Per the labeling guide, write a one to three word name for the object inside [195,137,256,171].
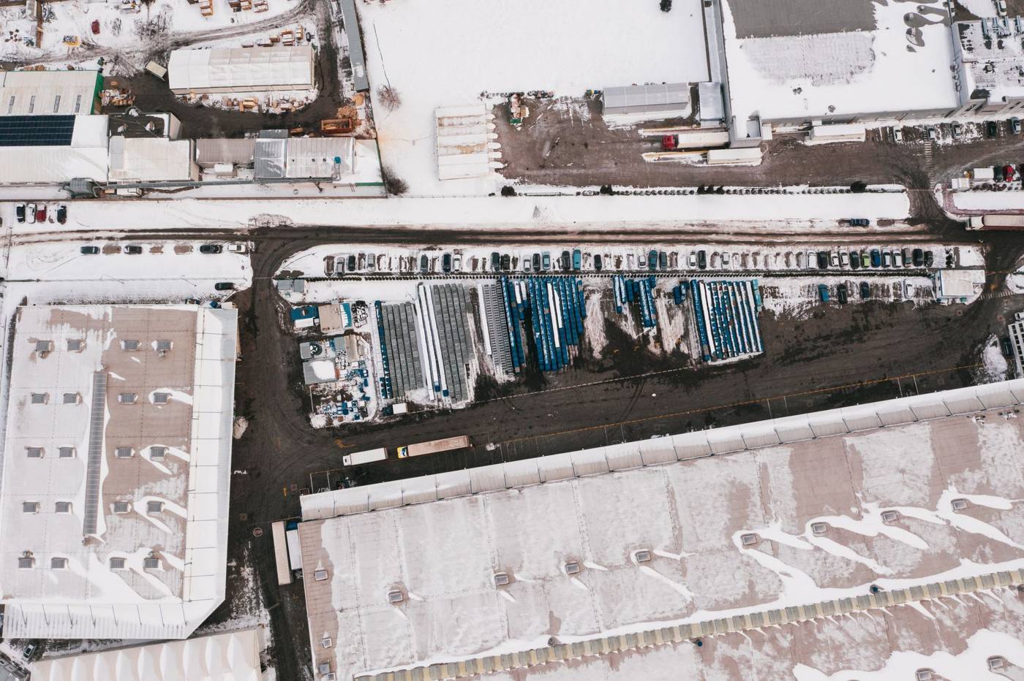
shed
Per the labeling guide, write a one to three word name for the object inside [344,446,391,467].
truck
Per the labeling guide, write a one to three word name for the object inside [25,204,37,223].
vehicle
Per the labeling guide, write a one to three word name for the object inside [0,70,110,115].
building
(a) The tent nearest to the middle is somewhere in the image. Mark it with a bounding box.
[436,102,491,183]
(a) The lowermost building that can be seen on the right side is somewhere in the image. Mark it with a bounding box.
[299,380,1024,681]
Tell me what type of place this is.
industrial area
